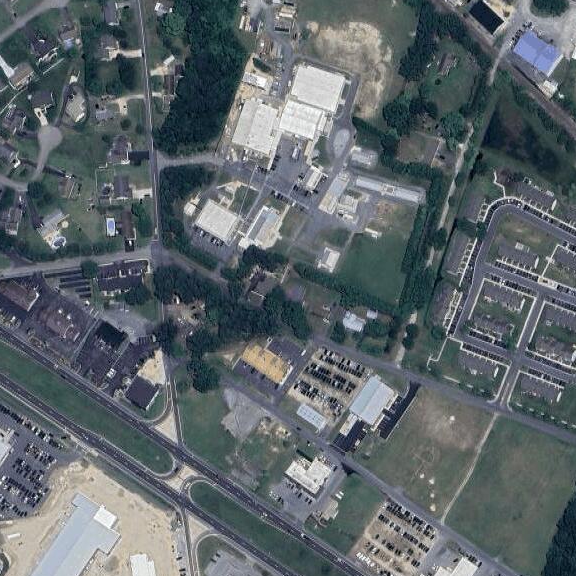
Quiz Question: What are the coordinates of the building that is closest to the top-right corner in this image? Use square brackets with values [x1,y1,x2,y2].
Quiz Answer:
[514,30,563,79]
